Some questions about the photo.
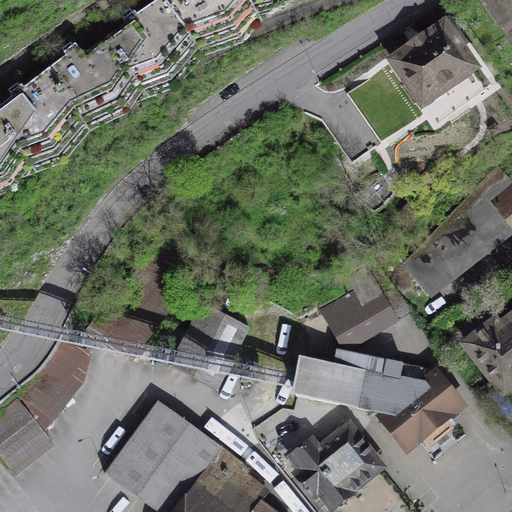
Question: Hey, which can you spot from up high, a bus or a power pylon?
bus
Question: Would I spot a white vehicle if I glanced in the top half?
No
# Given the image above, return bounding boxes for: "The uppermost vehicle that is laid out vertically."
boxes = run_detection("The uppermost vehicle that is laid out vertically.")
[277,324,291,354]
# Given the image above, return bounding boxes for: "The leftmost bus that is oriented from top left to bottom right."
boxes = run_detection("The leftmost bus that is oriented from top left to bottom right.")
[204,416,278,482]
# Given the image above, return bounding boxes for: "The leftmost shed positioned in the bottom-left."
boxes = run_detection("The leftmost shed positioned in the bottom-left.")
[0,399,53,474]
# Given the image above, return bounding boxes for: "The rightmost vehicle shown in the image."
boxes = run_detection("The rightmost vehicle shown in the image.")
[424,296,446,314]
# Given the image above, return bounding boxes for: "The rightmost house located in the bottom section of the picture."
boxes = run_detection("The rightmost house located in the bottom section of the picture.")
[460,310,512,396]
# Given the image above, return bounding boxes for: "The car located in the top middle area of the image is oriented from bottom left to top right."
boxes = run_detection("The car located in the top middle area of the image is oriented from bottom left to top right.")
[218,80,241,99]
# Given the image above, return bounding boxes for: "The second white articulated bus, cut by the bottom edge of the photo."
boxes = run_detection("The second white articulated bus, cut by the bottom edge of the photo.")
[274,480,316,512]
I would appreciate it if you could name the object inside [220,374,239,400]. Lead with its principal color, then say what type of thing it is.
white vehicle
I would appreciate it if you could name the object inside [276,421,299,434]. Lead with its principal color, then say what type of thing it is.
black vehicle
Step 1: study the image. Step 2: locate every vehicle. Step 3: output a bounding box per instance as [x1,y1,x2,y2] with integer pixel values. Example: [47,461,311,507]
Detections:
[218,80,241,99]
[102,425,126,454]
[277,380,292,405]
[276,421,299,434]
[424,296,446,314]
[274,480,316,512]
[109,496,128,512]
[220,374,239,400]
[277,324,291,354]
[204,416,278,482]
